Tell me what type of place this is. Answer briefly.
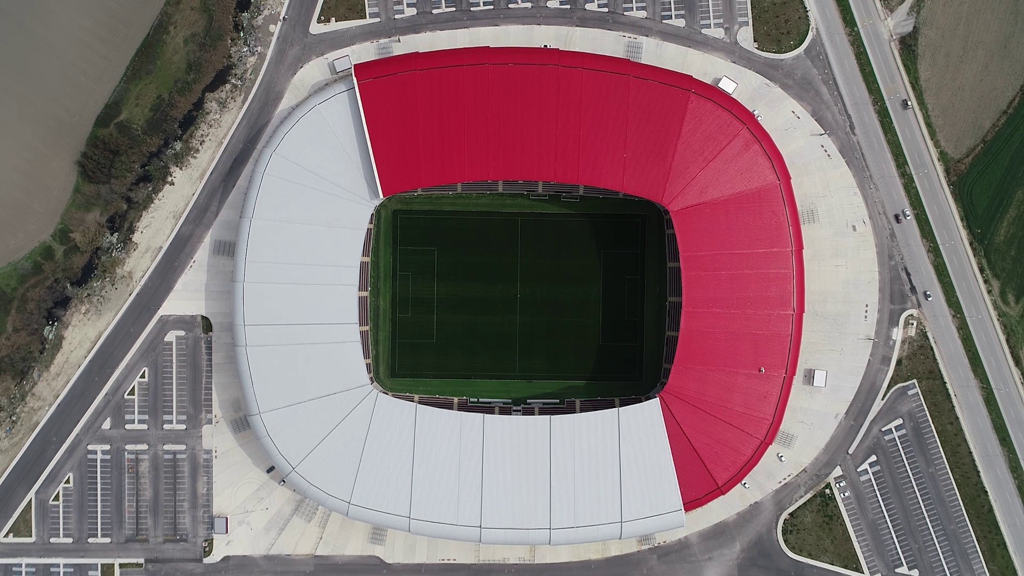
sports ground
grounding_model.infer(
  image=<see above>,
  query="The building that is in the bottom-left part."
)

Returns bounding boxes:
[214,515,231,534]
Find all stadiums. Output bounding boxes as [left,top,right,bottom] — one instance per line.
[231,45,806,546]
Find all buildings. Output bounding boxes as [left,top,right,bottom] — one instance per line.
[214,515,231,534]
[333,55,353,74]
[716,76,738,96]
[810,369,827,387]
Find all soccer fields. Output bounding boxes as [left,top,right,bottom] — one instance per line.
[370,193,667,407]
